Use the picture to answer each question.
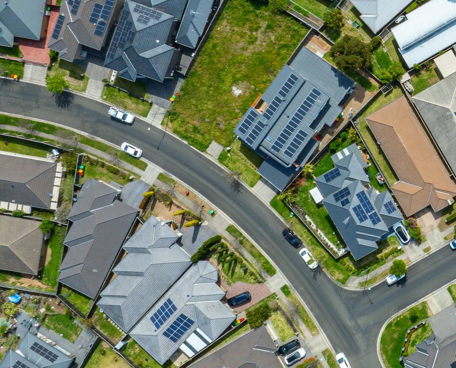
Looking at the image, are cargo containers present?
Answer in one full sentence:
No, this view has no cargo container in it.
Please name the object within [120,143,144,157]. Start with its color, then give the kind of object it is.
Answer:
white car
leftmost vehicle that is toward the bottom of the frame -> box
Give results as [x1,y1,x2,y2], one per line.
[228,291,250,306]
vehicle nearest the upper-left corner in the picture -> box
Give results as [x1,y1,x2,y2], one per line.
[108,107,134,123]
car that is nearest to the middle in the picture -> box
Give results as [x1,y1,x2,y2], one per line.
[283,227,302,248]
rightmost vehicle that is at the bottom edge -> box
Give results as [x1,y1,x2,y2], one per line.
[337,354,351,368]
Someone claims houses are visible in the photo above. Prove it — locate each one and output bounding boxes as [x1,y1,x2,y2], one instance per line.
[366,95,456,217]
[0,0,47,47]
[412,49,456,173]
[0,215,46,275]
[0,328,81,368]
[191,326,288,368]
[347,0,408,29]
[391,0,456,62]
[0,153,63,214]
[103,0,189,83]
[232,46,357,192]
[50,0,120,63]
[130,259,237,364]
[96,213,189,333]
[405,332,456,368]
[57,178,141,300]
[315,144,403,261]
